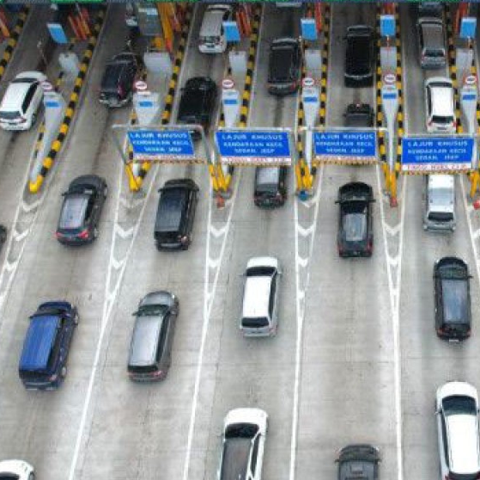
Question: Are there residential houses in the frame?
No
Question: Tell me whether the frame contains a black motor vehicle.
Yes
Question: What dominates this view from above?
paved ground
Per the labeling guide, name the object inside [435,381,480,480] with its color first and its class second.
white car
